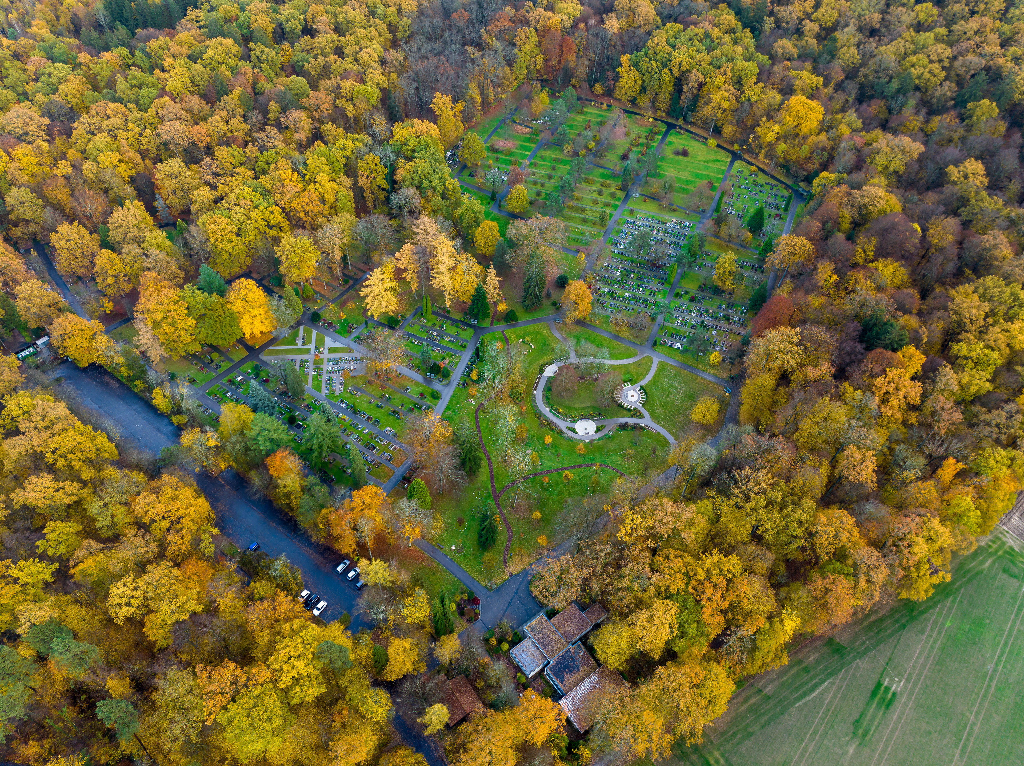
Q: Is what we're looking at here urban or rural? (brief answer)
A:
rural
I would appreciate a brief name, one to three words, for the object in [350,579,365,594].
car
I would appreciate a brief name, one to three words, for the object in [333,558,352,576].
car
